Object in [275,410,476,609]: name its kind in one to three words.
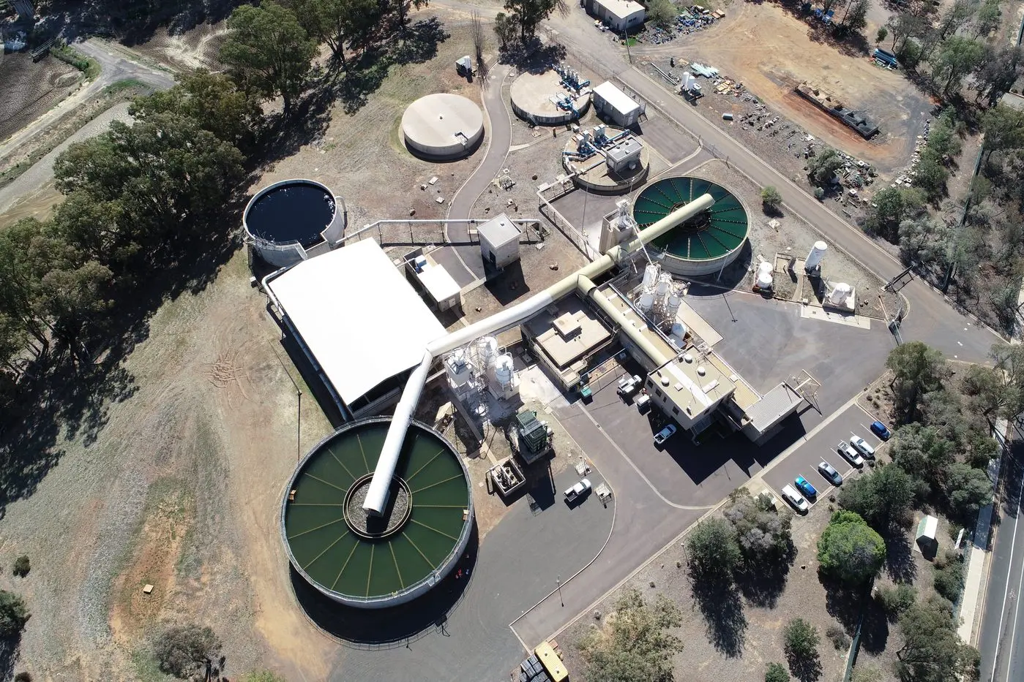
storage tank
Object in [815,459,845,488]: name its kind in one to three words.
car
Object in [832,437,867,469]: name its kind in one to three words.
truck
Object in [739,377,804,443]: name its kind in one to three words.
building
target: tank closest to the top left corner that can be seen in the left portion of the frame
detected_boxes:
[243,179,351,293]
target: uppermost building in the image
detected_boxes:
[574,0,645,34]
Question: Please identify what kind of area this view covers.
industrial area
